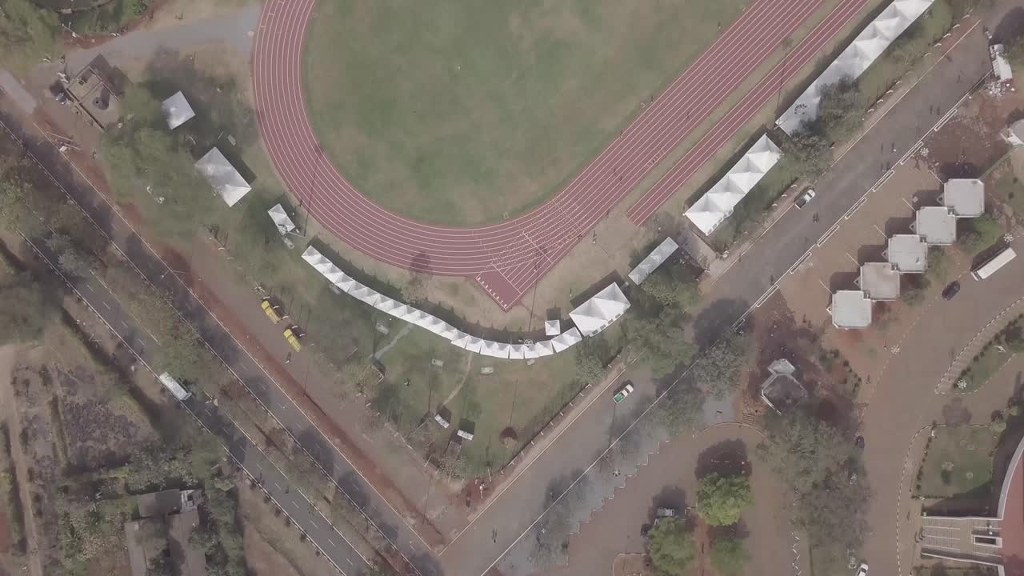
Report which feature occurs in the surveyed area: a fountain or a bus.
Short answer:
bus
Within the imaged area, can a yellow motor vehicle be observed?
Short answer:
Yes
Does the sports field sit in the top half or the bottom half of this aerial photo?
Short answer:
top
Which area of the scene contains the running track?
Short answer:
top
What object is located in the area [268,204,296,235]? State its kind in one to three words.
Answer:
tent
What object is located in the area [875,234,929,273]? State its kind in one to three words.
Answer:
house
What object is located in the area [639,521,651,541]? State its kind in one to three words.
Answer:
vehicle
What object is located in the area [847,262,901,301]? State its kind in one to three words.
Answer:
house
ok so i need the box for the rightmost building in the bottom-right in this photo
[922,407,1024,576]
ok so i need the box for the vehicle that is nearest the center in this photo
[612,383,634,405]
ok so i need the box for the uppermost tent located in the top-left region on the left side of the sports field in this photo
[161,92,200,128]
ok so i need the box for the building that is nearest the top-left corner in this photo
[66,65,128,135]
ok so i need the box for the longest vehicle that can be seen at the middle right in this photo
[972,248,1018,282]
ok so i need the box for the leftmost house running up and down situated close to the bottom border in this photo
[124,520,152,576]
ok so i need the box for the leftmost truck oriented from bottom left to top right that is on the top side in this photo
[794,188,816,210]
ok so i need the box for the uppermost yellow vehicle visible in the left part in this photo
[260,300,280,323]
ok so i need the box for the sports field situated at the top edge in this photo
[302,0,754,226]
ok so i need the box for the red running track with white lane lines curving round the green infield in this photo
[253,0,824,312]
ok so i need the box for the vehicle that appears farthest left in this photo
[159,371,191,402]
